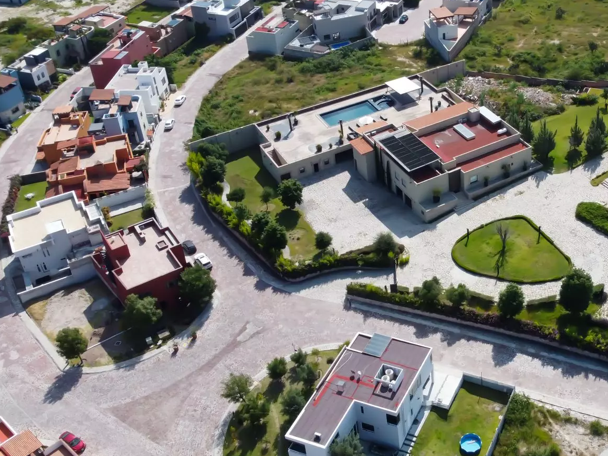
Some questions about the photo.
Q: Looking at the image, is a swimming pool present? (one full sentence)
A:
Yes, there's a swimming pool down there.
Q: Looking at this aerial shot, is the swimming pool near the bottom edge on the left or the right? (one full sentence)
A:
It is on the right.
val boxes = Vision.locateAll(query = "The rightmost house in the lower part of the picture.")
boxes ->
[285,332,435,456]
